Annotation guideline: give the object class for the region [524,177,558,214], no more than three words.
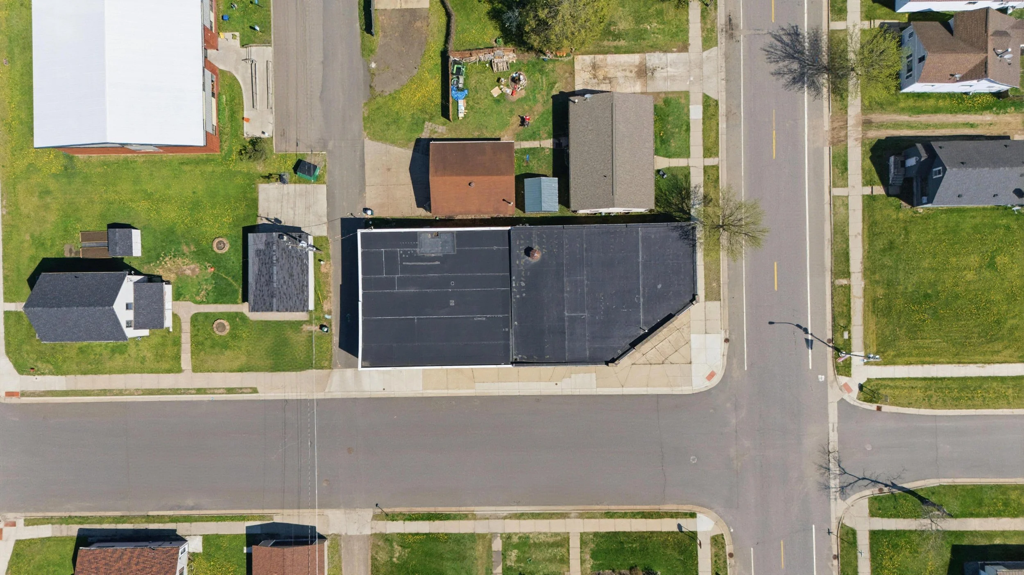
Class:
shed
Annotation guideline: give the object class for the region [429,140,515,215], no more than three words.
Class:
building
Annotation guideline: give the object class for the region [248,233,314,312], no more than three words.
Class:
building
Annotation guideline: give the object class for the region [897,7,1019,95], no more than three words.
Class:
house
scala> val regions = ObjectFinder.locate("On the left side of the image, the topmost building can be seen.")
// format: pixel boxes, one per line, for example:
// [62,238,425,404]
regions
[32,0,220,156]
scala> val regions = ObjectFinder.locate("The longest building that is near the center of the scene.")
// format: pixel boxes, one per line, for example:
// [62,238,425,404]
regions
[358,218,702,370]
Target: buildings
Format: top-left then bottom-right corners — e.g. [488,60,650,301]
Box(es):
[252,540,328,575]
[555,92,656,216]
[74,539,190,575]
[891,140,1024,207]
[248,233,314,312]
[32,0,220,156]
[524,177,558,214]
[897,7,1019,95]
[108,228,142,257]
[965,559,1024,575]
[358,218,702,370]
[429,140,515,215]
[23,271,172,343]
